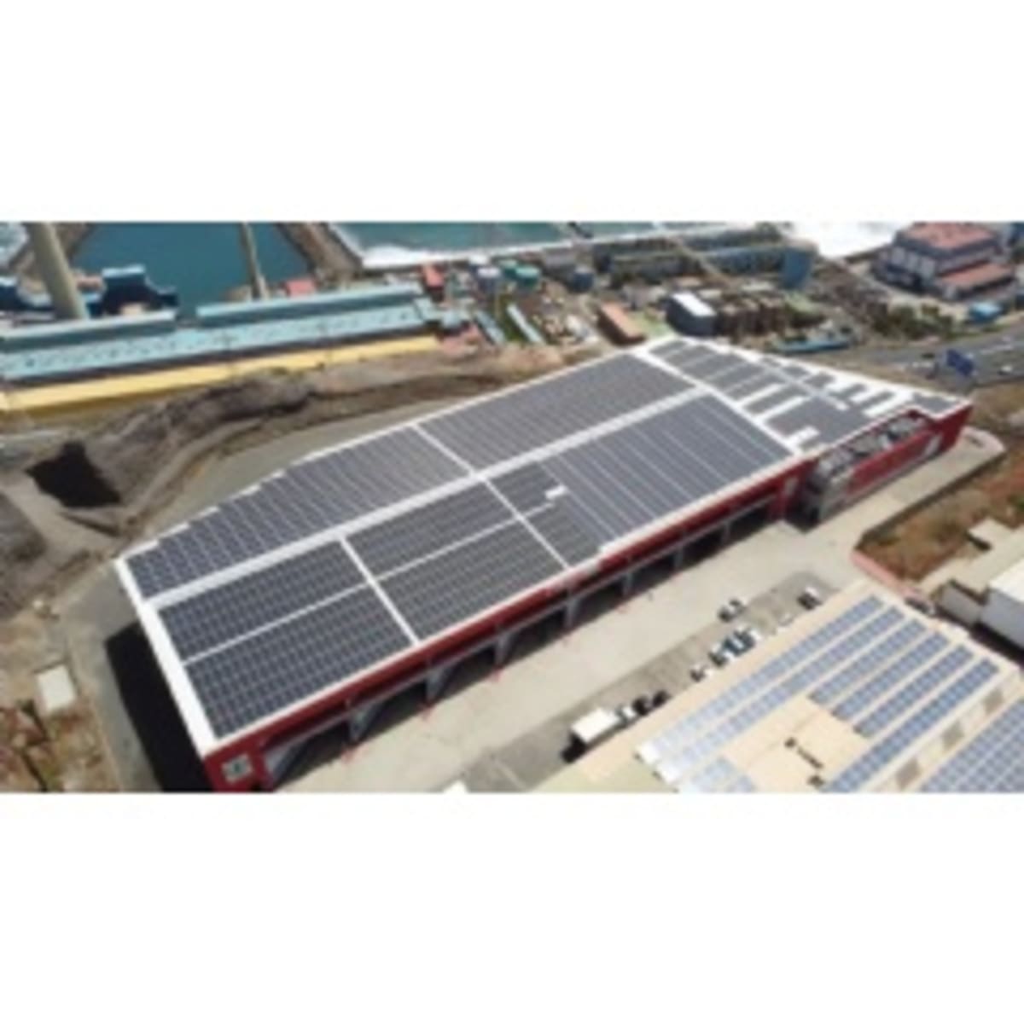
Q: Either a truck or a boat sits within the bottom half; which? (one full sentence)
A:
Visible within the bottom half is a truck.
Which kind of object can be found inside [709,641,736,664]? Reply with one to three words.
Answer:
car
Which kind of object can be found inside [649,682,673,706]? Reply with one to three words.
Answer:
car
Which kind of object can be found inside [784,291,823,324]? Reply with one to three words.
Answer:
shed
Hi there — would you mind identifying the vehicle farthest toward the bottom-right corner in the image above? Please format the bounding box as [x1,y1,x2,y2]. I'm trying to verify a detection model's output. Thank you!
[912,596,940,615]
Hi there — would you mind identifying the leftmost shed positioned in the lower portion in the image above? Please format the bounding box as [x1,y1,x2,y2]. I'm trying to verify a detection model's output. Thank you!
[37,666,80,720]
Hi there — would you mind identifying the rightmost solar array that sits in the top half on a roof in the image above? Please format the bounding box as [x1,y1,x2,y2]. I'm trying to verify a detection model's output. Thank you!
[915,392,957,410]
